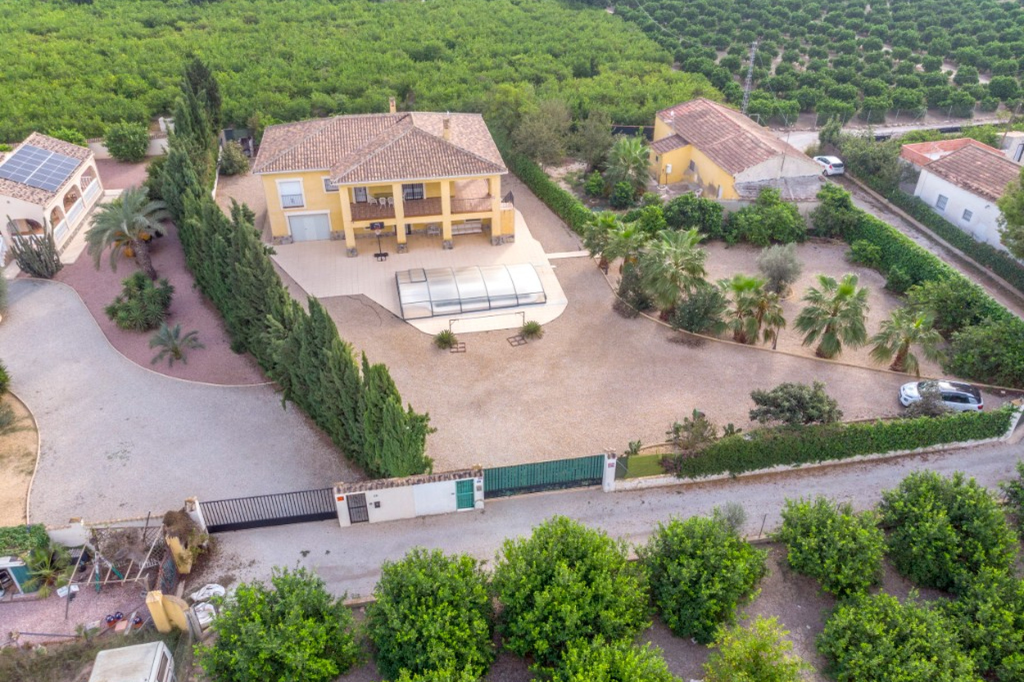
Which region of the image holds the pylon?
top right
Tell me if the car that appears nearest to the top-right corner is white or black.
white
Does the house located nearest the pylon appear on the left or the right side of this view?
right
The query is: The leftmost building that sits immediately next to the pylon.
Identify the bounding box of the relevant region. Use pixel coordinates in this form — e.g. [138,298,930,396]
[657,95,819,193]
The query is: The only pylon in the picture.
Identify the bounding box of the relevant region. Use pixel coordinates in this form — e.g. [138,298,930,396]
[739,39,760,118]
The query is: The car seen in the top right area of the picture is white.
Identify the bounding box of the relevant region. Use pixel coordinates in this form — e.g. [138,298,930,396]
[814,155,849,175]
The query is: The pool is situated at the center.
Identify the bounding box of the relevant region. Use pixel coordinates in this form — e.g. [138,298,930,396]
[426,297,537,311]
